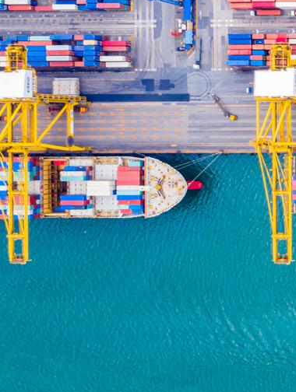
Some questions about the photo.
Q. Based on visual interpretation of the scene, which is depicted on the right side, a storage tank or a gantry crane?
gantry crane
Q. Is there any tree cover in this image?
No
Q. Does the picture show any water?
Yes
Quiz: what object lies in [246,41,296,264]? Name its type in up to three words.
container crane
